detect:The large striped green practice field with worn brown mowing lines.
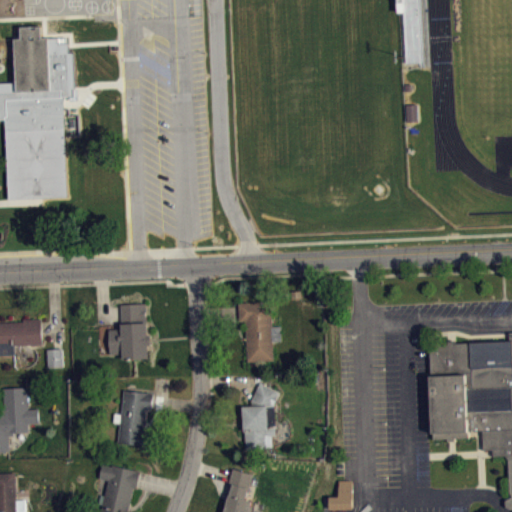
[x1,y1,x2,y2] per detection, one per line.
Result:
[233,0,444,236]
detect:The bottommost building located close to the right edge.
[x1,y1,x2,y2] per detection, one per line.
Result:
[428,342,512,512]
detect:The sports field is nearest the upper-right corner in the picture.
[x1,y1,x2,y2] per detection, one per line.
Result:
[452,0,512,176]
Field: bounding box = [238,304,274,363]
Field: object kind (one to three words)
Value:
house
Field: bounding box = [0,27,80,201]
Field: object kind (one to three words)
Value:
building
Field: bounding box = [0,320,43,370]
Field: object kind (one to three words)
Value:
house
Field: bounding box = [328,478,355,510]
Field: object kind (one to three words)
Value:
shed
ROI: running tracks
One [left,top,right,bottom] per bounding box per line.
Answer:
[430,0,512,198]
